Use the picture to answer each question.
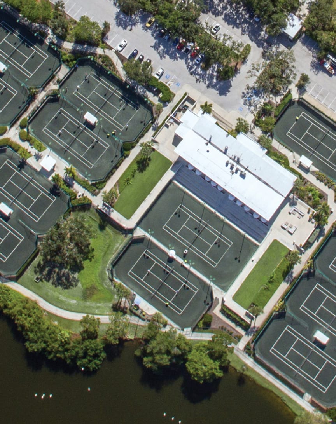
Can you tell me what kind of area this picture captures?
sports ground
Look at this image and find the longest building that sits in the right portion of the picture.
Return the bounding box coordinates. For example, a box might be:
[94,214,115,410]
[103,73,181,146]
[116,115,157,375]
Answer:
[174,109,297,221]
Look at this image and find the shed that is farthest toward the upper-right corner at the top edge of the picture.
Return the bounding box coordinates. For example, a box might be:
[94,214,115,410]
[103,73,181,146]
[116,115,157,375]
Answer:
[282,13,303,41]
